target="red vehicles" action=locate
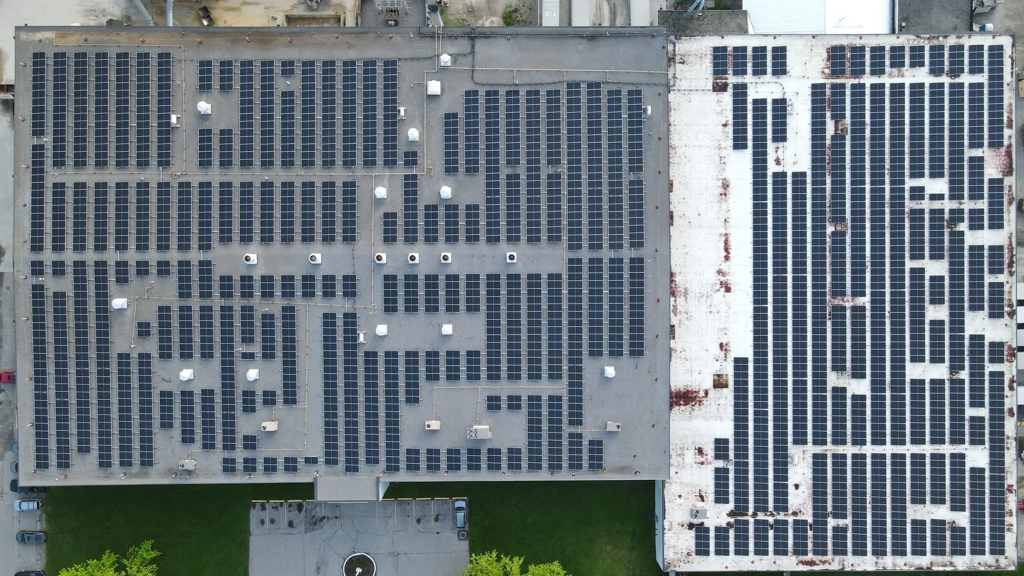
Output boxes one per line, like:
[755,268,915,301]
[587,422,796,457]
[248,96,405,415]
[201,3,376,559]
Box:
[1018,500,1024,513]
[0,371,15,386]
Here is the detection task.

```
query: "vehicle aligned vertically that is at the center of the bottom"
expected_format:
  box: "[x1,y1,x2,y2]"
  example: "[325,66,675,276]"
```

[453,501,467,530]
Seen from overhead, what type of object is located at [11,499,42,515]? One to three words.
car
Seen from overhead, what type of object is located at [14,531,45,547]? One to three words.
car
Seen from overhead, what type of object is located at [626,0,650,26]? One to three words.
trailer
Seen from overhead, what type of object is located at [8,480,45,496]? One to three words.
vehicle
